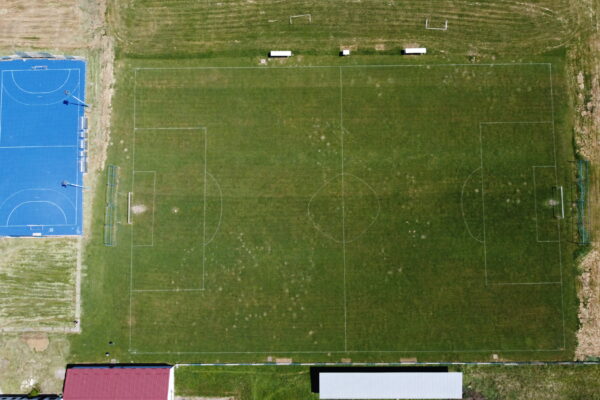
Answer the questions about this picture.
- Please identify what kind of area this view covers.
sports ground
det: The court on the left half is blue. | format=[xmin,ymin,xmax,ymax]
[0,59,88,238]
